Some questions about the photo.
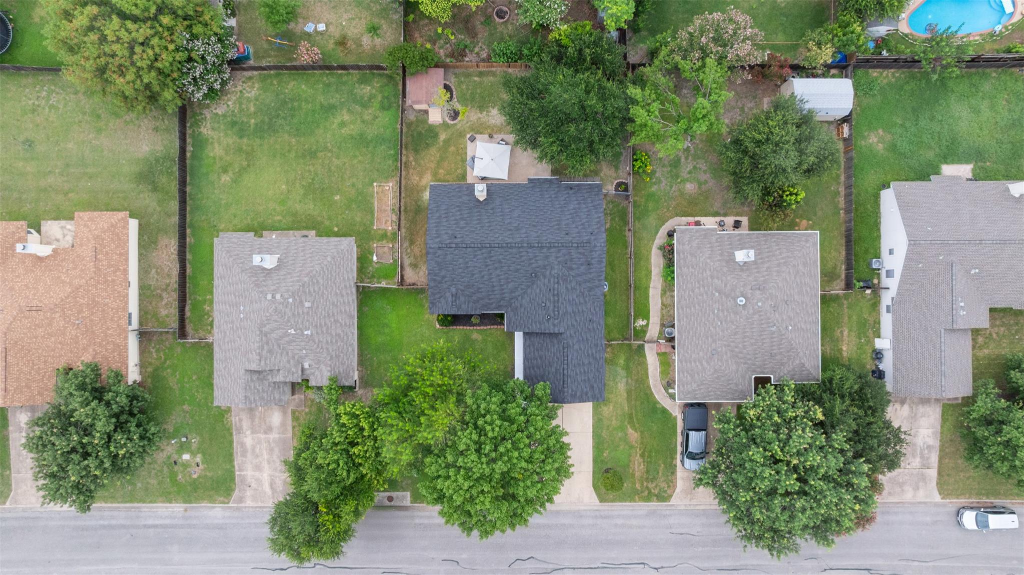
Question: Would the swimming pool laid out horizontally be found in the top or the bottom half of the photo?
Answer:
top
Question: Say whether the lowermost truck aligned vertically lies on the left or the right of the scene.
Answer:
right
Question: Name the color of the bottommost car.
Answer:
white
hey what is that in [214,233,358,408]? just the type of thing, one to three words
house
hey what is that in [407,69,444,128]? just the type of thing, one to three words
shed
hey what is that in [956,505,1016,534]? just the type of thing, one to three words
car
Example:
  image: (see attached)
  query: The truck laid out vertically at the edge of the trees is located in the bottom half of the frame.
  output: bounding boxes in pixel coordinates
[679,402,711,471]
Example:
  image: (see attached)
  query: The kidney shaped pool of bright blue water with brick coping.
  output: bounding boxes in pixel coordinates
[905,0,1018,38]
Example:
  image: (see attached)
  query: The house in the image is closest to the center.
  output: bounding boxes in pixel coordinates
[427,177,606,404]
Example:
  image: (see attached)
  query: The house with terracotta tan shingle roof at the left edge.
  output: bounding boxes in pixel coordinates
[0,211,143,408]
